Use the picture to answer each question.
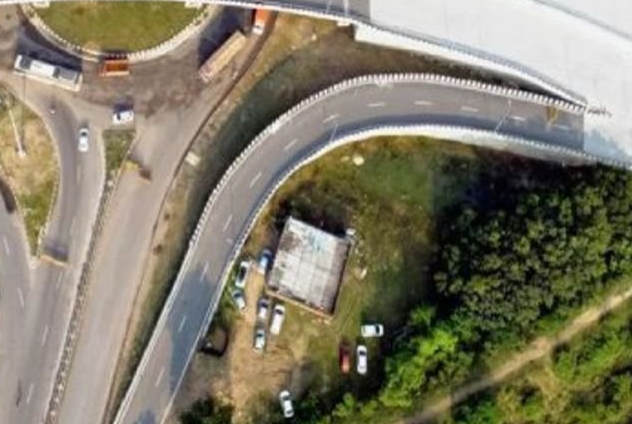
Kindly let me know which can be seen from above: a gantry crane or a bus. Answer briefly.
bus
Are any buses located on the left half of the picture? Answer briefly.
Yes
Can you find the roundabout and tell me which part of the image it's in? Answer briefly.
top left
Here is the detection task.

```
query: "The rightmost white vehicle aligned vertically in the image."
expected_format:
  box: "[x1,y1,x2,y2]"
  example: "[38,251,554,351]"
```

[356,344,369,375]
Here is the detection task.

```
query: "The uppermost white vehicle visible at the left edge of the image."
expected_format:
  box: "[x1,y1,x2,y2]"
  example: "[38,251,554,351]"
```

[13,54,85,91]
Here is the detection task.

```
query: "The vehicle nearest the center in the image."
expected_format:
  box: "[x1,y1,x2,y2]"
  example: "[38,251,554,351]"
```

[258,247,274,274]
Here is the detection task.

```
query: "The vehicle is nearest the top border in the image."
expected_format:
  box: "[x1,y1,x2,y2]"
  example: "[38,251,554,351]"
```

[251,11,270,35]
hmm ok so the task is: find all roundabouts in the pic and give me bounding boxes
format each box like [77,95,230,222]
[0,2,236,73]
